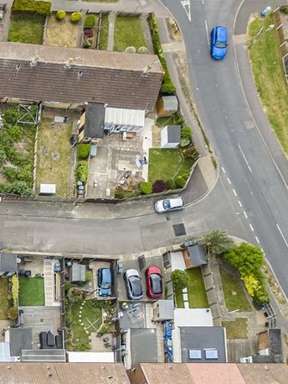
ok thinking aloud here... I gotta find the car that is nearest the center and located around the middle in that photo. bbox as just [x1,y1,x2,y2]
[151,197,185,214]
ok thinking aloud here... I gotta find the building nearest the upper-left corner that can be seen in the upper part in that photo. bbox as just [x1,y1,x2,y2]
[0,39,53,107]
